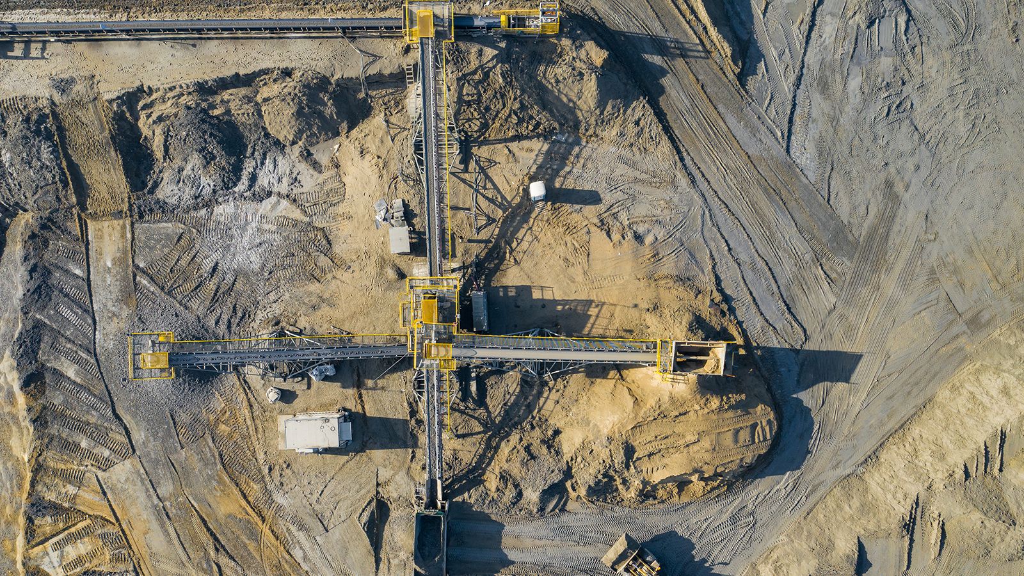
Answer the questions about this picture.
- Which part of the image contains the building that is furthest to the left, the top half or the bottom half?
bottom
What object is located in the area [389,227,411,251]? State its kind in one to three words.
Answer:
building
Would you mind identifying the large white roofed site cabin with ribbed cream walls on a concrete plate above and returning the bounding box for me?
[285,412,356,453]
